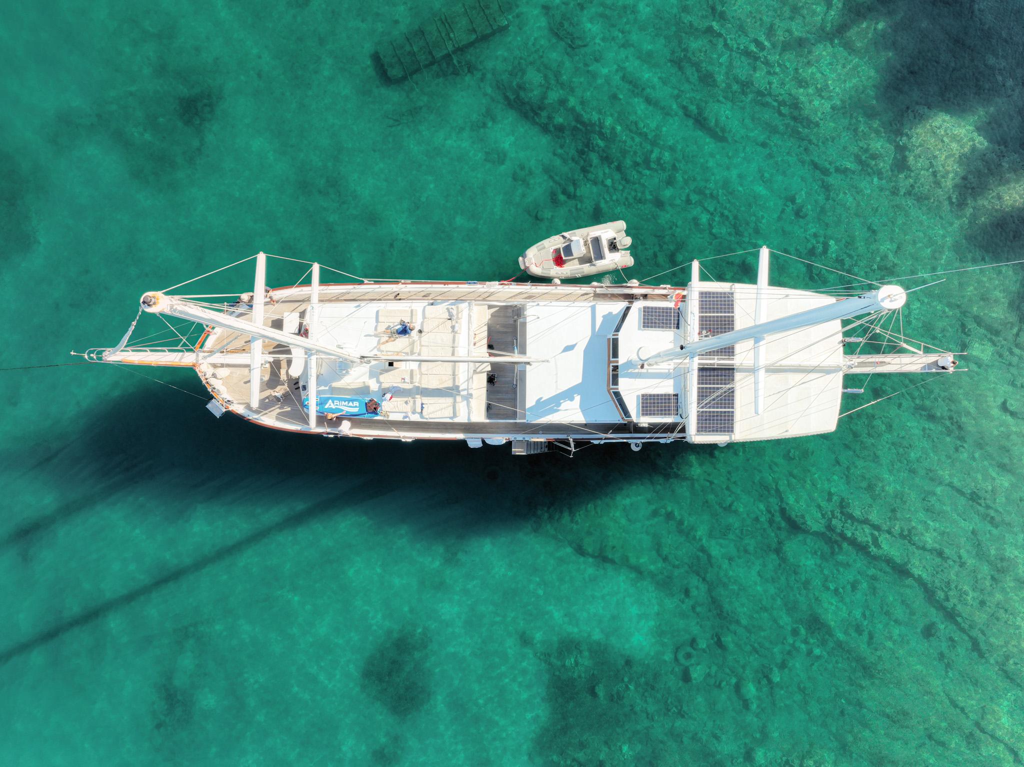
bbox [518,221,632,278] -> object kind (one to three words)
boat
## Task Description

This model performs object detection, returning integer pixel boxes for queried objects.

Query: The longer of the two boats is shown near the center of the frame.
[71,244,968,456]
